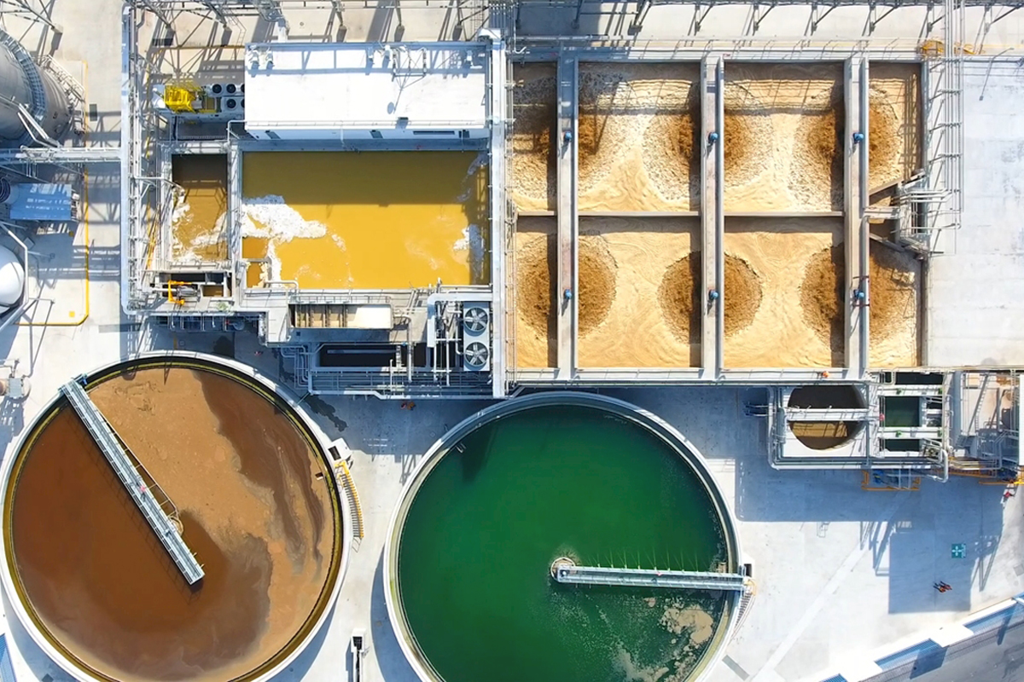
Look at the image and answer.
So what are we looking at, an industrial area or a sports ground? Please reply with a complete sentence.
It's an industrial area.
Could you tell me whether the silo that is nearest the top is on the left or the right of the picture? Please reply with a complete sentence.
It is on the left.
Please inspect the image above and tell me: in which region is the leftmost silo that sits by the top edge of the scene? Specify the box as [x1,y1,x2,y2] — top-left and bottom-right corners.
[0,21,86,149]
